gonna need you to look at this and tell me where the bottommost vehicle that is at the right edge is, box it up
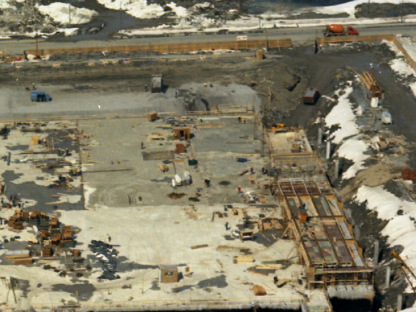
[379,110,396,126]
